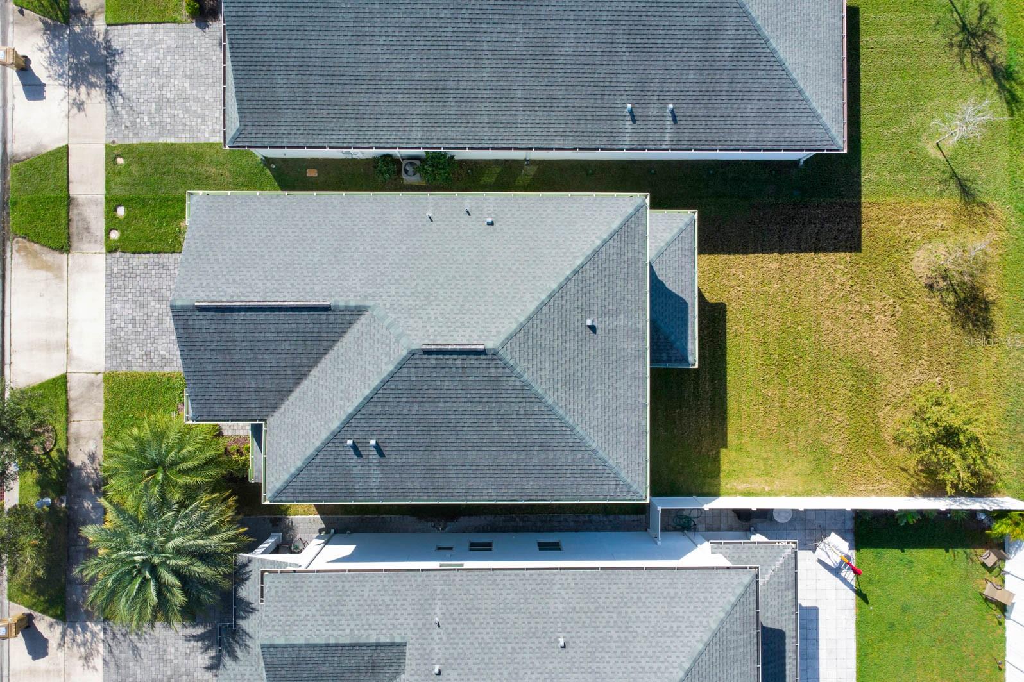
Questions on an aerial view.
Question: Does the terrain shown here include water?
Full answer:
No, no water is visible.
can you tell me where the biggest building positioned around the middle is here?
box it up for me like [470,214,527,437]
[168,191,698,504]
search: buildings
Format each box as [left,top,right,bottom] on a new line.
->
[213,524,798,682]
[221,0,847,167]
[168,191,698,504]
